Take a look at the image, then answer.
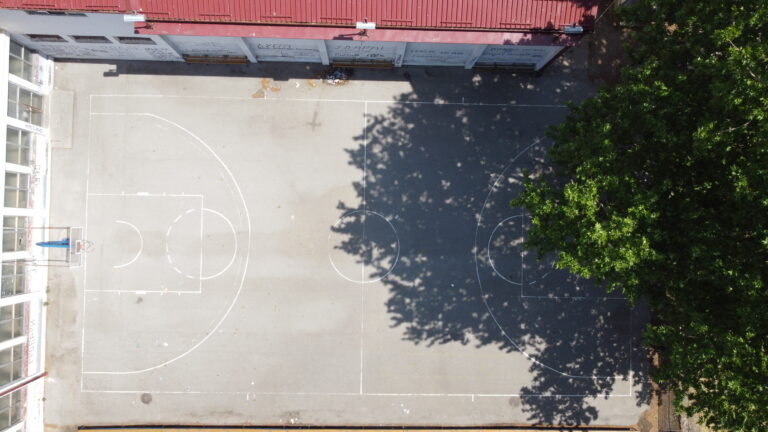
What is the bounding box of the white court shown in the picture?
[42,33,650,432]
